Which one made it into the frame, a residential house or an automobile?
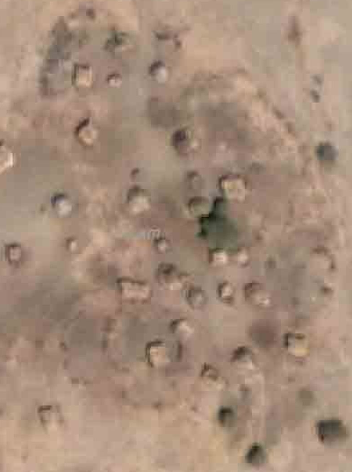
residential house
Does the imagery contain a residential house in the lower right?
Yes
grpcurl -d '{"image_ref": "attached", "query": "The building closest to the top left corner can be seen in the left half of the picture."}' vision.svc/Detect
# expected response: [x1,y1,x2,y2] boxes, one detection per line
[78,69,96,89]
